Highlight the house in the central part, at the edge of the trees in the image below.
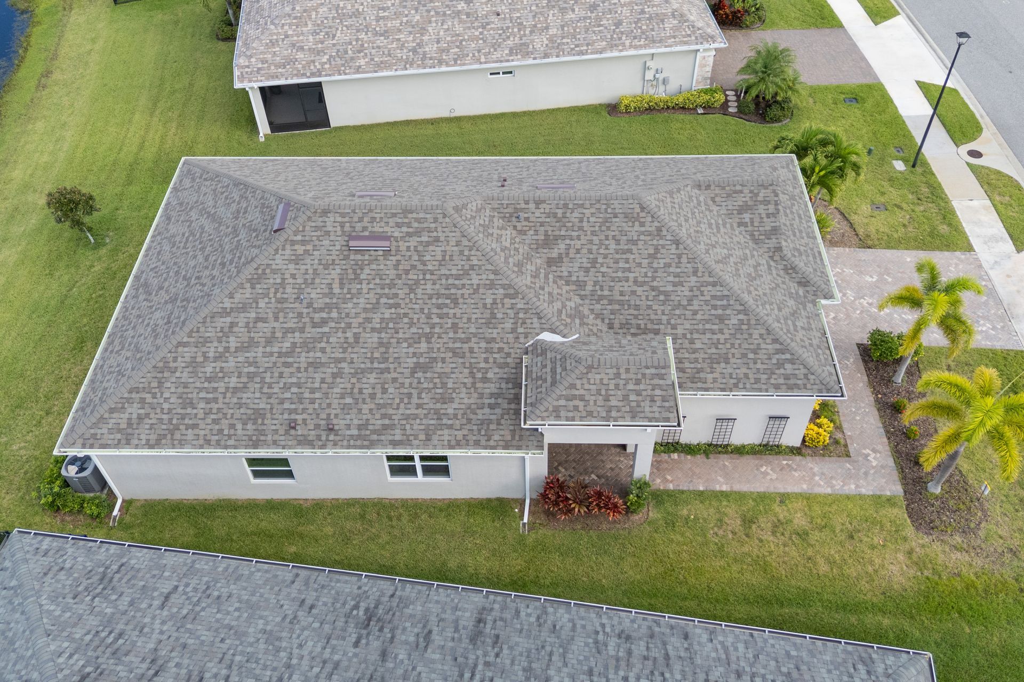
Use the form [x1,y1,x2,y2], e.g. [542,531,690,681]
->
[55,155,846,519]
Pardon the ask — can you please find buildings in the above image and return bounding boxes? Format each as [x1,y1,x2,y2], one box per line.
[55,155,846,519]
[0,530,935,682]
[235,0,727,138]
